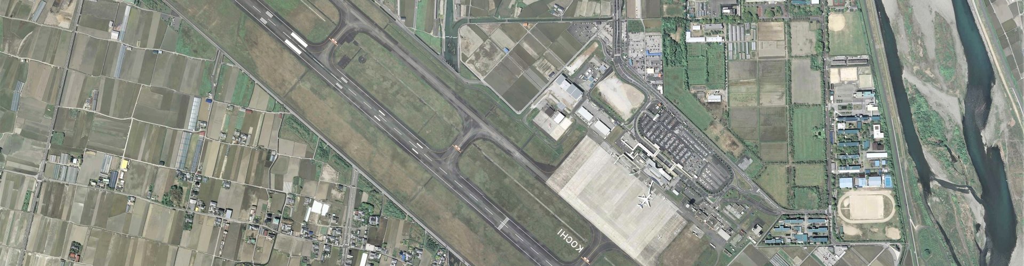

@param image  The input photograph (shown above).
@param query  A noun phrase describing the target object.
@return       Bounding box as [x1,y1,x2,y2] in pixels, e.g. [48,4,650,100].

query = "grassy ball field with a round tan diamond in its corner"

[828,11,868,54]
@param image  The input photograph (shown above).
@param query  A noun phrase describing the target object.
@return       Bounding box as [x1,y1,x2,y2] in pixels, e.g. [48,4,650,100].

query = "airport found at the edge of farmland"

[166,0,740,266]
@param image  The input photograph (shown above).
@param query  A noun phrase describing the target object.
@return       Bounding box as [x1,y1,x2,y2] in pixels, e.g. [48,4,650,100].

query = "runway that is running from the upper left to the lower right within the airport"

[236,0,563,266]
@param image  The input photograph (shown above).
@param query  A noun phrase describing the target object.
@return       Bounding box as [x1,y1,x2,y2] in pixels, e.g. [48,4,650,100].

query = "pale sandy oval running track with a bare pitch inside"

[831,189,905,241]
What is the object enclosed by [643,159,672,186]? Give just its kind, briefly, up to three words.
building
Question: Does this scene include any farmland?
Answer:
Yes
